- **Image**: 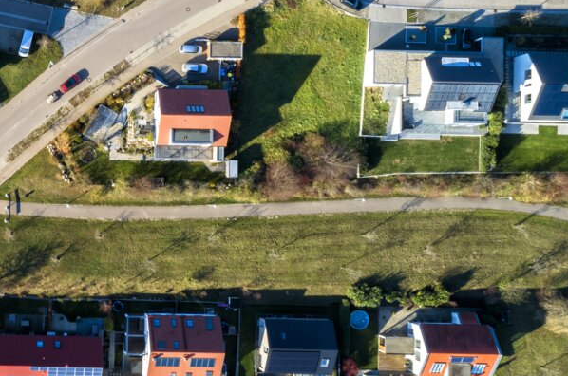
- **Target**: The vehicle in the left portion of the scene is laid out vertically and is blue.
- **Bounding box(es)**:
[18,26,36,59]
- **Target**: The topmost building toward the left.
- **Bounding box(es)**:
[205,41,243,62]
